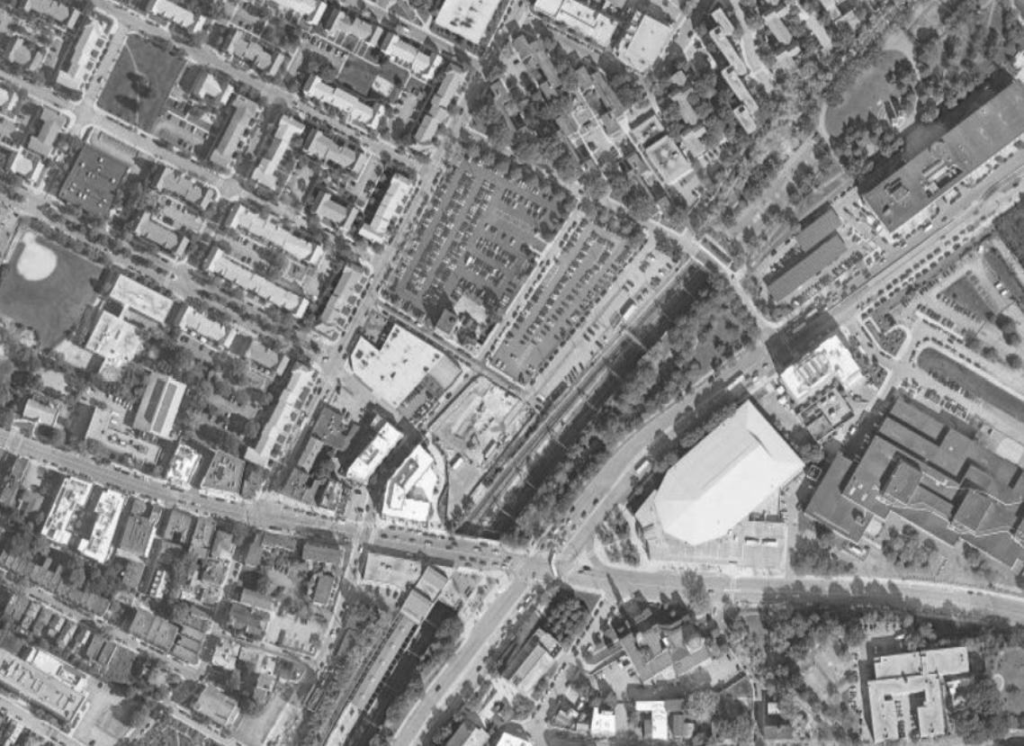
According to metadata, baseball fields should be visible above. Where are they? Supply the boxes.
[0,220,106,349]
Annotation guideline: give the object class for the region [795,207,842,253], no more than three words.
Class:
shed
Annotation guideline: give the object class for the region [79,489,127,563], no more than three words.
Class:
building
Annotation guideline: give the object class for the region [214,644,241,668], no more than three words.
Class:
house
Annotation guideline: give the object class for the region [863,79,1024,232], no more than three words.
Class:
warehouse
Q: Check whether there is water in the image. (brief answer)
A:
No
